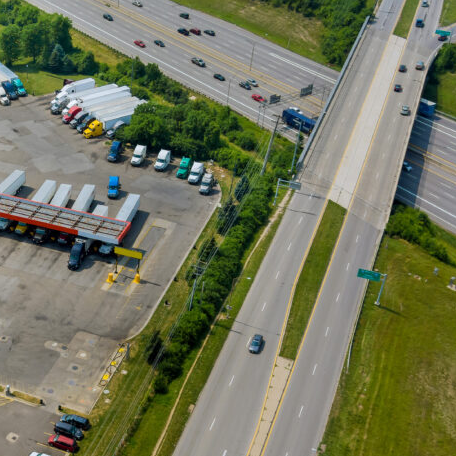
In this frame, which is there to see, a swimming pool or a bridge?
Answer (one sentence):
Of the two, only a bridge appears.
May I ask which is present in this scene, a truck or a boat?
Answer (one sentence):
The image shows a truck.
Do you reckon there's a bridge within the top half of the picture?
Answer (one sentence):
Yes, a bridge is visible within the top half of the picture.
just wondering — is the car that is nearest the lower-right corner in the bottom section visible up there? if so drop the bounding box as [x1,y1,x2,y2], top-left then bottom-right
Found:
[246,331,265,353]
